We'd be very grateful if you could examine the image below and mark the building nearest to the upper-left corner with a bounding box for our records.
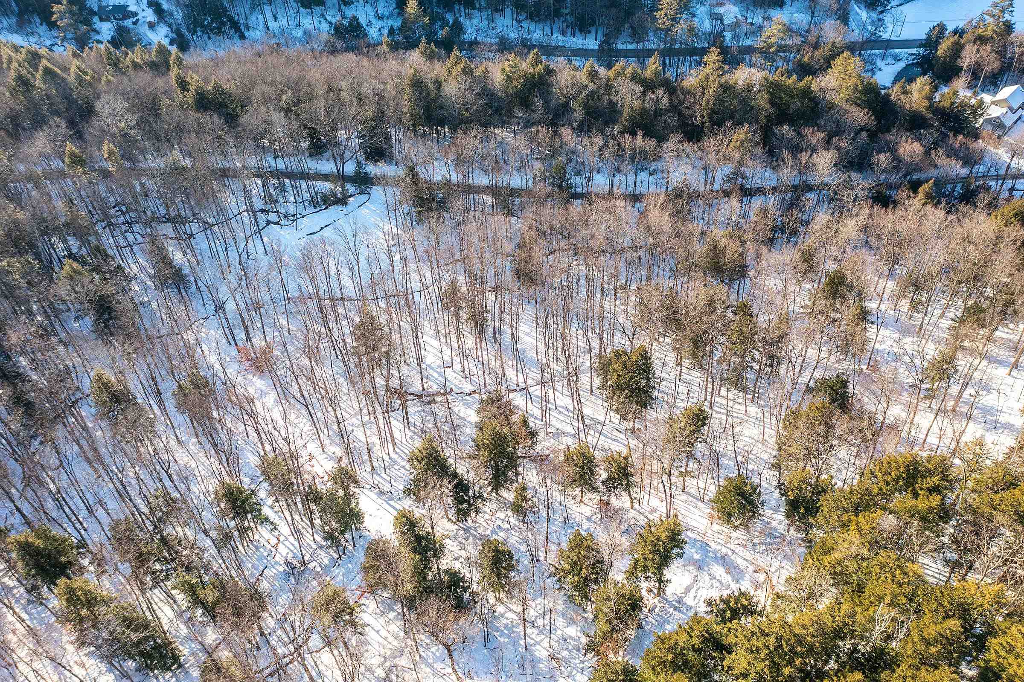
[96,5,139,21]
